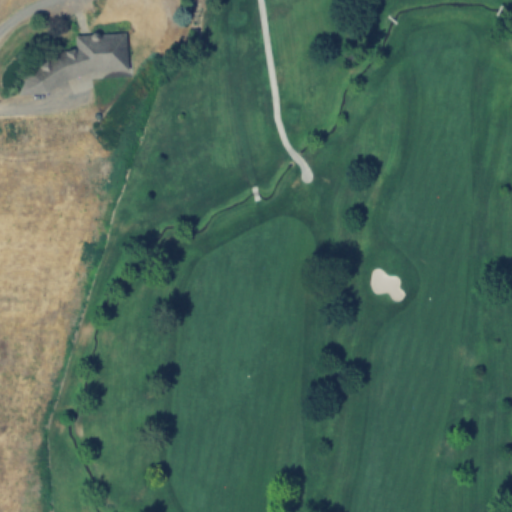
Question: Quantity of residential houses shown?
one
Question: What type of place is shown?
golf course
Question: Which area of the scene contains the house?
top left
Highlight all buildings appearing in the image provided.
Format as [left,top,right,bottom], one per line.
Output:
[26,32,132,92]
